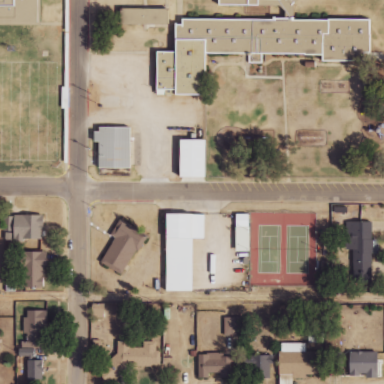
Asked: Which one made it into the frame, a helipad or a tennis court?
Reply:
tennis court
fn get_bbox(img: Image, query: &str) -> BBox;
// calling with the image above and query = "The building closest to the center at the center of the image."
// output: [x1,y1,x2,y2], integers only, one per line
[180,139,206,177]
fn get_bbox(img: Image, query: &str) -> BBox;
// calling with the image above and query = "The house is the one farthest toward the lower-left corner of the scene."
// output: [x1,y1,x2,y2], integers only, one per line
[27,360,42,380]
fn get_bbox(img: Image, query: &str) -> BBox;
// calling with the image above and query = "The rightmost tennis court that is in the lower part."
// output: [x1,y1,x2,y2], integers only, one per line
[284,212,316,285]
